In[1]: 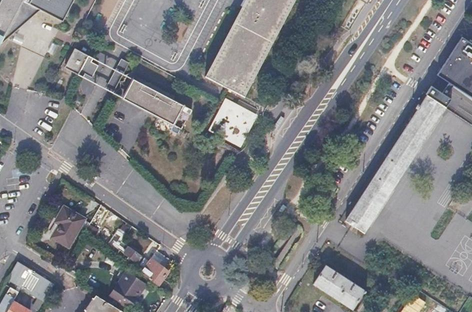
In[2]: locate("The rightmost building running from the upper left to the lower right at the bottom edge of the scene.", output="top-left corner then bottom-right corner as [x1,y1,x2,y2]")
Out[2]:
[313,265,366,310]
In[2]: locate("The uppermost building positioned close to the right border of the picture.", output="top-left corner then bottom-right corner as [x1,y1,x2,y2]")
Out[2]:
[436,37,472,94]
